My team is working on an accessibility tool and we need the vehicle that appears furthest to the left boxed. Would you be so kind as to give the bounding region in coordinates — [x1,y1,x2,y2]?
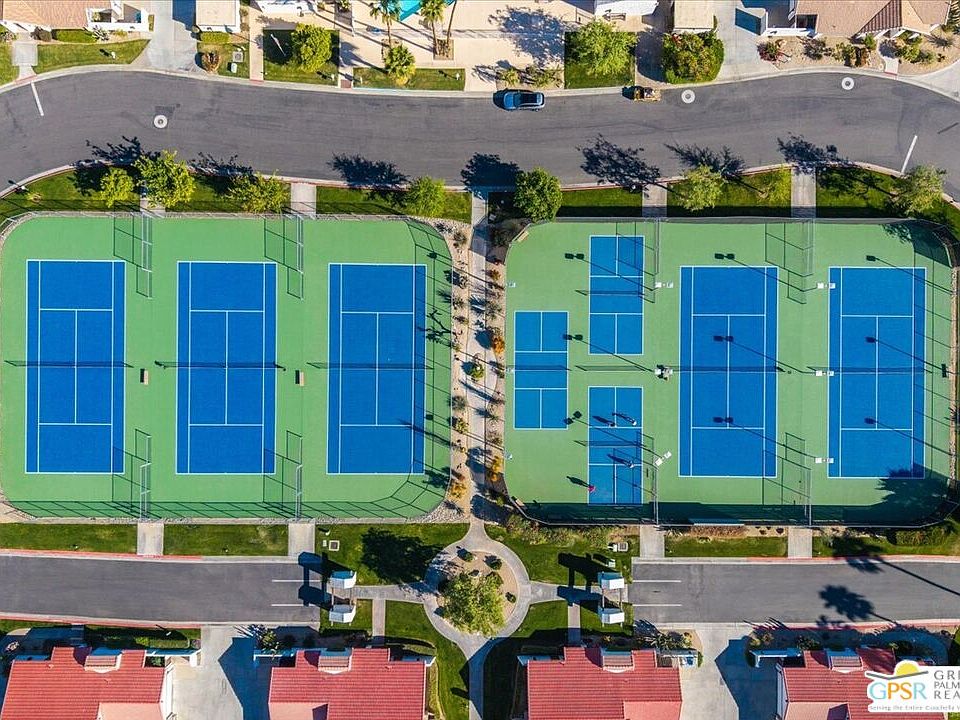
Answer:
[502,91,547,112]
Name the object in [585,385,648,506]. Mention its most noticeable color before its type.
blue sports court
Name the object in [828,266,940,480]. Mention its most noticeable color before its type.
blue tennis court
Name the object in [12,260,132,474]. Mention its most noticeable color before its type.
blue tennis court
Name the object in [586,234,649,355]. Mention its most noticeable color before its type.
blue sports court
